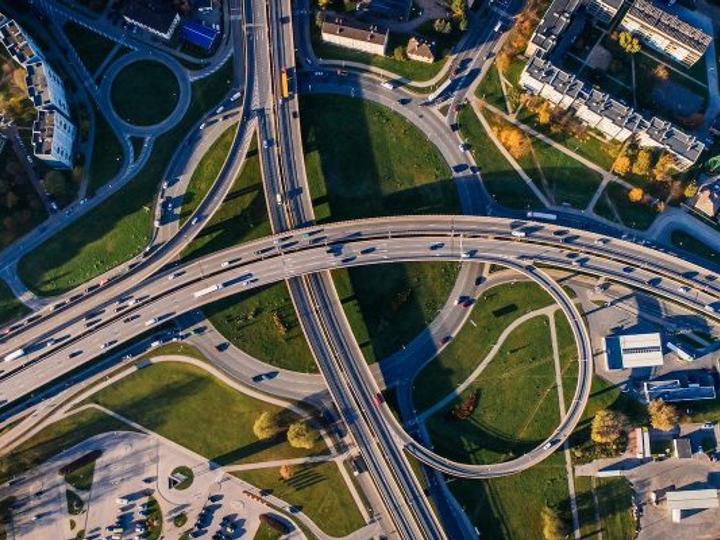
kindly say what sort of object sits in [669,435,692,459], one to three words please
house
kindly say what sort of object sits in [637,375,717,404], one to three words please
building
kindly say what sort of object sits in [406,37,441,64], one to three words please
house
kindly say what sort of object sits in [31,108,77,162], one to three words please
building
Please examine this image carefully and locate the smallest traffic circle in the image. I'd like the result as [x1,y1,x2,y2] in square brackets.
[98,49,191,139]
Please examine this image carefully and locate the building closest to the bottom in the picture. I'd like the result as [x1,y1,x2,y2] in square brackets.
[660,484,719,523]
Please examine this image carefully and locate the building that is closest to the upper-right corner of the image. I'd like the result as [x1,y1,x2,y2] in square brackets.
[612,0,713,77]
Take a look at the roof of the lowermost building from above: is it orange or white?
white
